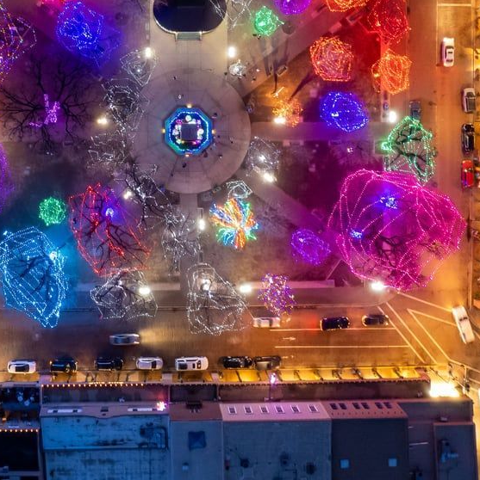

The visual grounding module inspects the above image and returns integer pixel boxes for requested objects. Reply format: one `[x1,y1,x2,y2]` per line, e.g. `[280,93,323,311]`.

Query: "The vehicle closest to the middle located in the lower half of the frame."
[252,315,281,329]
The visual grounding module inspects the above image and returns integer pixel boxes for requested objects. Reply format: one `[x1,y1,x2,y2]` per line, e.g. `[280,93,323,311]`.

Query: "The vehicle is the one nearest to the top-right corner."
[441,34,457,68]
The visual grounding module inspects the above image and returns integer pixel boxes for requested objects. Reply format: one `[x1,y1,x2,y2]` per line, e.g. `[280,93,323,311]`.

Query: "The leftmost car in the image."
[7,360,36,375]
